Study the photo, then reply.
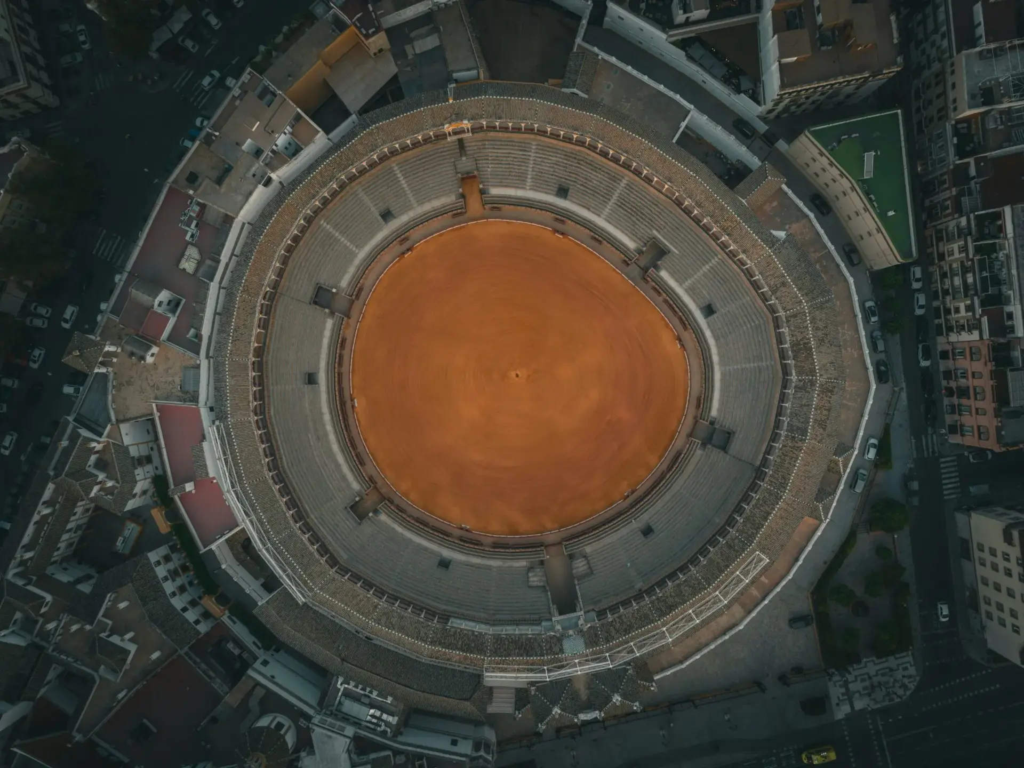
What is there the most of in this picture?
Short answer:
buildings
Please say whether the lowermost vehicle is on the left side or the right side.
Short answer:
right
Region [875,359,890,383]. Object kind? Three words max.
car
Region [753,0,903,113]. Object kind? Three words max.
building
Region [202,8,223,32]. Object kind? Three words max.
car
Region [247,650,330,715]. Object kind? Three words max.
house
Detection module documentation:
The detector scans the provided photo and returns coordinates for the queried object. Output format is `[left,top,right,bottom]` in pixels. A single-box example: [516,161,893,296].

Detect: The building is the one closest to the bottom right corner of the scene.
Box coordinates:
[954,500,1024,661]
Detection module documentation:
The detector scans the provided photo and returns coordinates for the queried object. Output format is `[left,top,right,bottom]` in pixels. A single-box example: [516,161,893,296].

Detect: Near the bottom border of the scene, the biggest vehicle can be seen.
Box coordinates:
[802,745,837,765]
